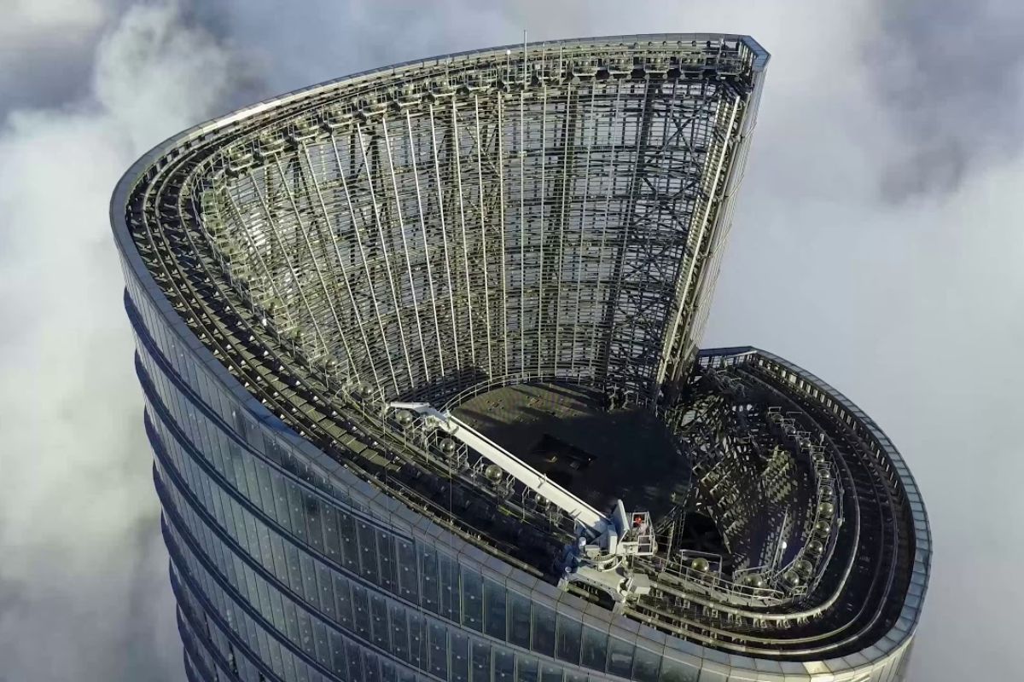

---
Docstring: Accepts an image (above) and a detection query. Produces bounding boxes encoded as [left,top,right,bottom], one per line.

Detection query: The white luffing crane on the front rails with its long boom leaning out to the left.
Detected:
[384,400,657,678]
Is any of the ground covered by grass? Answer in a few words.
No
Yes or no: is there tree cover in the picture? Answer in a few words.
No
